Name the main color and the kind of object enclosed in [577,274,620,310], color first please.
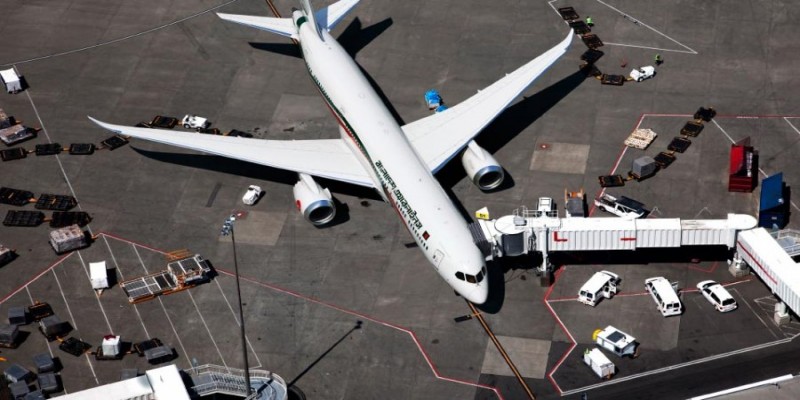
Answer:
white van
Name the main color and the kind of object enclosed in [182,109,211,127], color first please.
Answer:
white work vehicle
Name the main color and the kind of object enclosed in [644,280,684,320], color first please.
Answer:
white van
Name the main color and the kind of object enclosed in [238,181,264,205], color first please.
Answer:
white car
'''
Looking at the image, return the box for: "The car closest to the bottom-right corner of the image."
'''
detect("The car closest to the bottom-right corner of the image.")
[695,281,738,315]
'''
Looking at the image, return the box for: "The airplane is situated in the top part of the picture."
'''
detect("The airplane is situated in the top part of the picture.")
[88,0,573,303]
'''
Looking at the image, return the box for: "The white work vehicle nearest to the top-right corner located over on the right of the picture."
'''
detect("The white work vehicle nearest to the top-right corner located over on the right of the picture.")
[629,63,657,81]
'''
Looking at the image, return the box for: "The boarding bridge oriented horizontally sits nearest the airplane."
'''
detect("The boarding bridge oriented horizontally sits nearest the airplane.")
[471,203,764,286]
